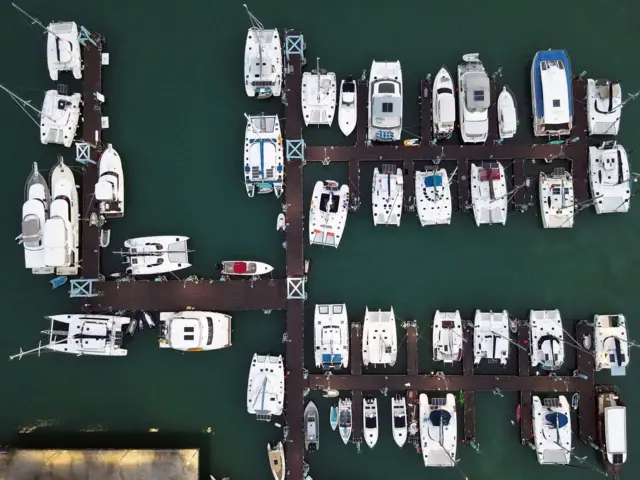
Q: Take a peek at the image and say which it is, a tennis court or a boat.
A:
boat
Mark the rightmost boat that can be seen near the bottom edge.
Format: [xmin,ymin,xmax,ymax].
[594,382,627,480]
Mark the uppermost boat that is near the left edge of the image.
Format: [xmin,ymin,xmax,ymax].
[9,1,86,84]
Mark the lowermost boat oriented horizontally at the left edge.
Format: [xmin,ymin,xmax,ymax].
[4,314,134,361]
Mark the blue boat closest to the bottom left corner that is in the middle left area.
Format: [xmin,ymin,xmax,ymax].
[49,276,66,289]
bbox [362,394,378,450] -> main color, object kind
white boat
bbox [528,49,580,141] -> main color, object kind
white ship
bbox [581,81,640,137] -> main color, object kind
white boat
